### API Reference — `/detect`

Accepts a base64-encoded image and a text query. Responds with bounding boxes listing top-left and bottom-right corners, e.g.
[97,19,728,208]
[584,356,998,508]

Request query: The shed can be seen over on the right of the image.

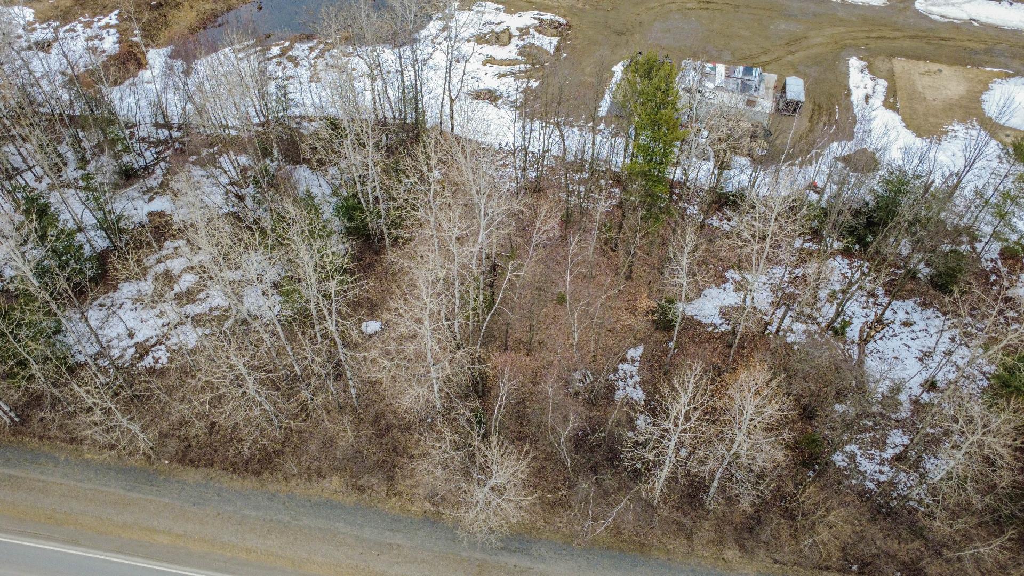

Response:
[780,77,808,117]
